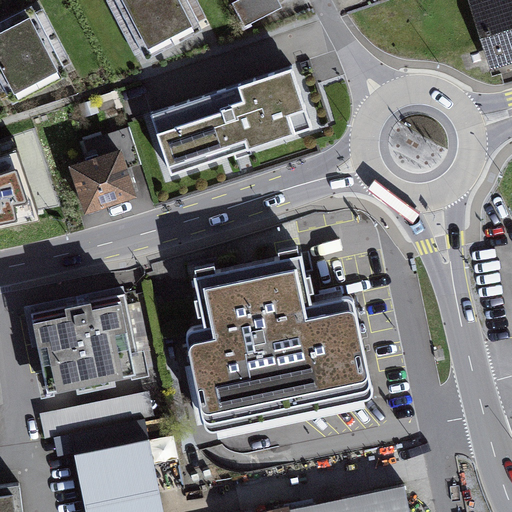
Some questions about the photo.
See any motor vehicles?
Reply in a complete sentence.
Yes, looking at the shot, I can spot a motor vehicle.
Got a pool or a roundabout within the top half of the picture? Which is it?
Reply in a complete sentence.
Visible within the top half of the picture is a roundabout.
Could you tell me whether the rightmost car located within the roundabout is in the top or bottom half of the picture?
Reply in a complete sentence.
You can find the rightmost car located within the roundabout in the top half.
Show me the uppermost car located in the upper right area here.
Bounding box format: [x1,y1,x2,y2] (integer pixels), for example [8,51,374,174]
[431,90,454,110]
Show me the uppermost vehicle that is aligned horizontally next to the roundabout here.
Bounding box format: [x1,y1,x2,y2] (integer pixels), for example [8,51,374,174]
[329,178,354,190]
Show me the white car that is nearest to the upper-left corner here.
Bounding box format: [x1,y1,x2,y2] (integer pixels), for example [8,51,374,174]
[110,203,132,216]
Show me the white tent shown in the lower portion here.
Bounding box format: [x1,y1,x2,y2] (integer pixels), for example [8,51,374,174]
[150,436,179,464]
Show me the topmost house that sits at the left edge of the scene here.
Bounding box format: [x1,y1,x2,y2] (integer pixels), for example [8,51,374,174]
[0,6,70,100]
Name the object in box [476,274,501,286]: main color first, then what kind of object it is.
white vehicle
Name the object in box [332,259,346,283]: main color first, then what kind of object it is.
white car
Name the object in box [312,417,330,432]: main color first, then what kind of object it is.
white car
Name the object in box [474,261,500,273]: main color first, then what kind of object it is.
white vehicle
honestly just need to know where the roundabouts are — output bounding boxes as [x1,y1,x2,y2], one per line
[349,75,488,214]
